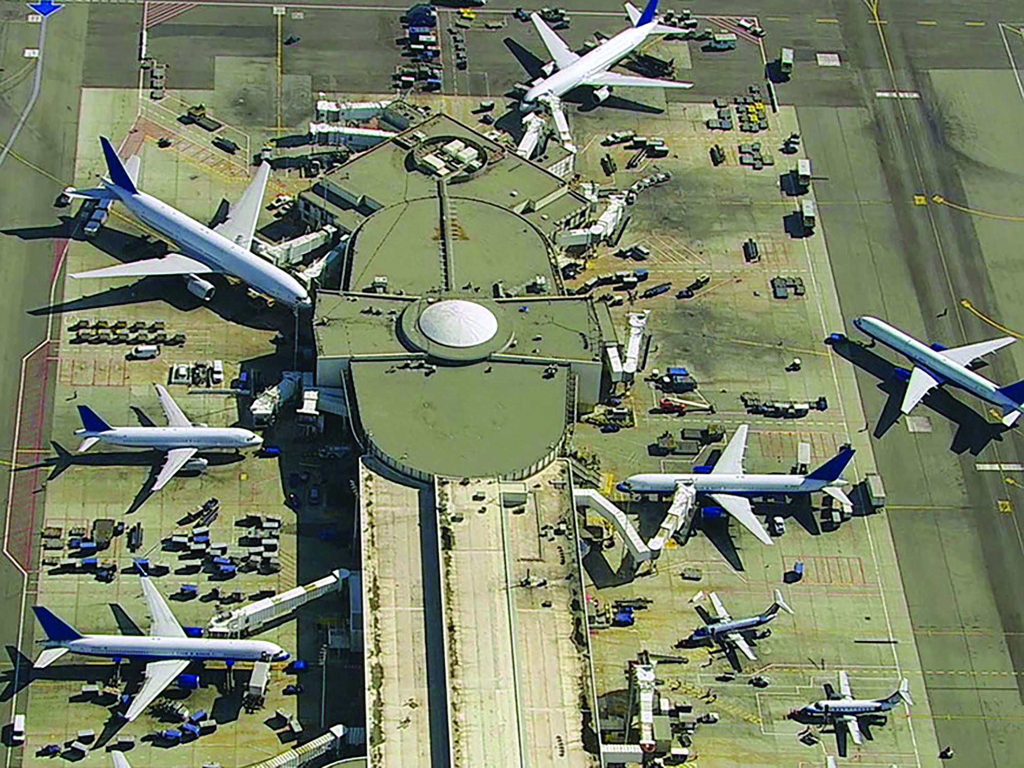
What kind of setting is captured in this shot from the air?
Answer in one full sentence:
The picture captures an airport.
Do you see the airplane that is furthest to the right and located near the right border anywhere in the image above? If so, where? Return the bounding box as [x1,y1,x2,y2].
[853,318,1024,429]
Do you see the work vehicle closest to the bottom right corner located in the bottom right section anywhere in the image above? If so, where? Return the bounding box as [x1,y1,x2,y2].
[936,748,955,763]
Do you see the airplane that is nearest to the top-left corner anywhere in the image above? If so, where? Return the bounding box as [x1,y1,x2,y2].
[64,133,311,307]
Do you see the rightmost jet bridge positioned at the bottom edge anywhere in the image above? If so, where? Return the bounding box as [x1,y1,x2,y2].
[600,665,660,768]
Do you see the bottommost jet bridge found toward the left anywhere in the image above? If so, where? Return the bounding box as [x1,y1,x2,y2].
[240,721,364,768]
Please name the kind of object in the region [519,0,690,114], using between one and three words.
airplane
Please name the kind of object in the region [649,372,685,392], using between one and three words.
work vehicle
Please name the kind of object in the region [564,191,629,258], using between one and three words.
jet bridge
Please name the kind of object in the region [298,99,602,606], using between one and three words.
building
